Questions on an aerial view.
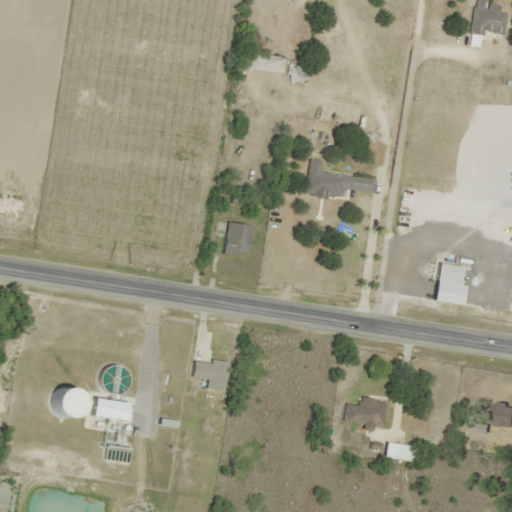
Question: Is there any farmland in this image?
Yes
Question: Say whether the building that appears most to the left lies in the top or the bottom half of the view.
bottom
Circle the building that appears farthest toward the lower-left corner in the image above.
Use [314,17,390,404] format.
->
[94,398,134,420]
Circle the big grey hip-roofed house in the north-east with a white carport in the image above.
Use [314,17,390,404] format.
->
[467,0,506,38]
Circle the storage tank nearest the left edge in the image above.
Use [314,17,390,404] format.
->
[50,386,92,418]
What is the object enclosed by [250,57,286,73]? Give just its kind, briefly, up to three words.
house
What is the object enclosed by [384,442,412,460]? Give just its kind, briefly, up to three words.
shed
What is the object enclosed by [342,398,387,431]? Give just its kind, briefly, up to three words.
house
